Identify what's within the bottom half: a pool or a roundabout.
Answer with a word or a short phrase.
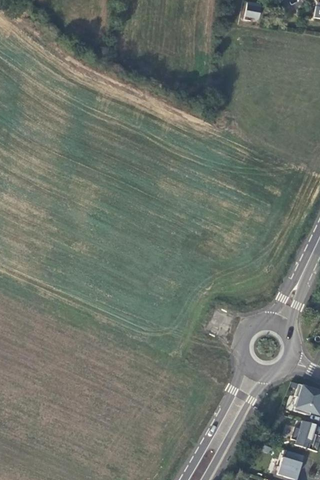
roundabout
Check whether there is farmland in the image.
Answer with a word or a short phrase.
Yes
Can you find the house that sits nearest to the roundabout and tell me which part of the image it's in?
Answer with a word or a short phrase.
bottom right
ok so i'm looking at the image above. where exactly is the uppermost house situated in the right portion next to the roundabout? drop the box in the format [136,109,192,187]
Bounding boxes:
[288,382,320,417]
